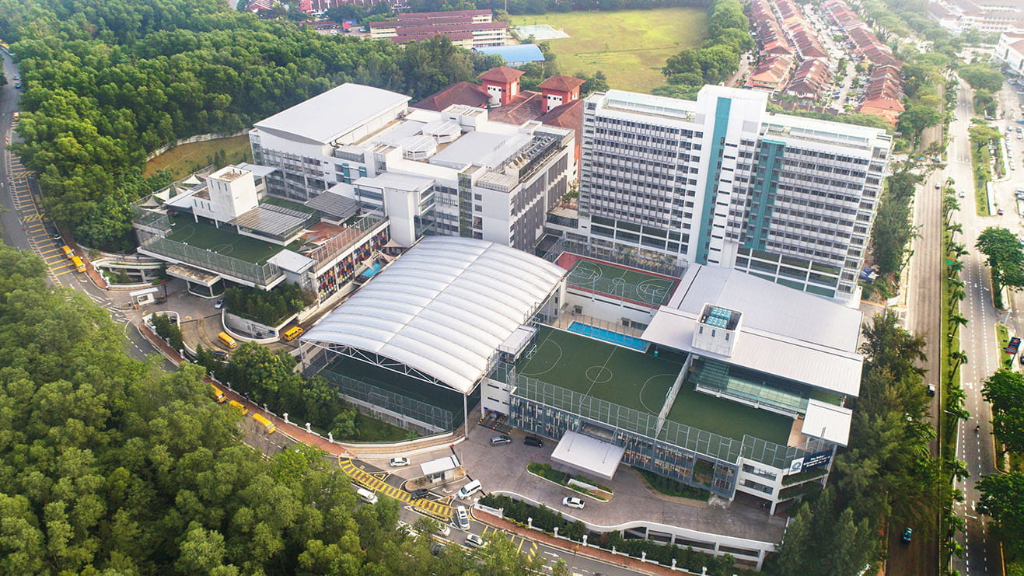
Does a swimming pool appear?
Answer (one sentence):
Yes, the picture does show a swimming pool.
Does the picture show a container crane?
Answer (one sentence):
No, I find no container crane anywhere in the image.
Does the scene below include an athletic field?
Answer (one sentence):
Yes, you can see an athletic field in this photo.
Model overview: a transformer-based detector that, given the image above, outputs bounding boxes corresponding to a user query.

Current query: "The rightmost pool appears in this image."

[542,303,654,352]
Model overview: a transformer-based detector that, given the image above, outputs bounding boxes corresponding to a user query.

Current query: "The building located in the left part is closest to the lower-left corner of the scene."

[122,286,162,306]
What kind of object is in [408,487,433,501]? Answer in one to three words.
car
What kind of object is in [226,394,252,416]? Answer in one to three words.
vehicle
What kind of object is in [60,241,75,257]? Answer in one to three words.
vehicle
